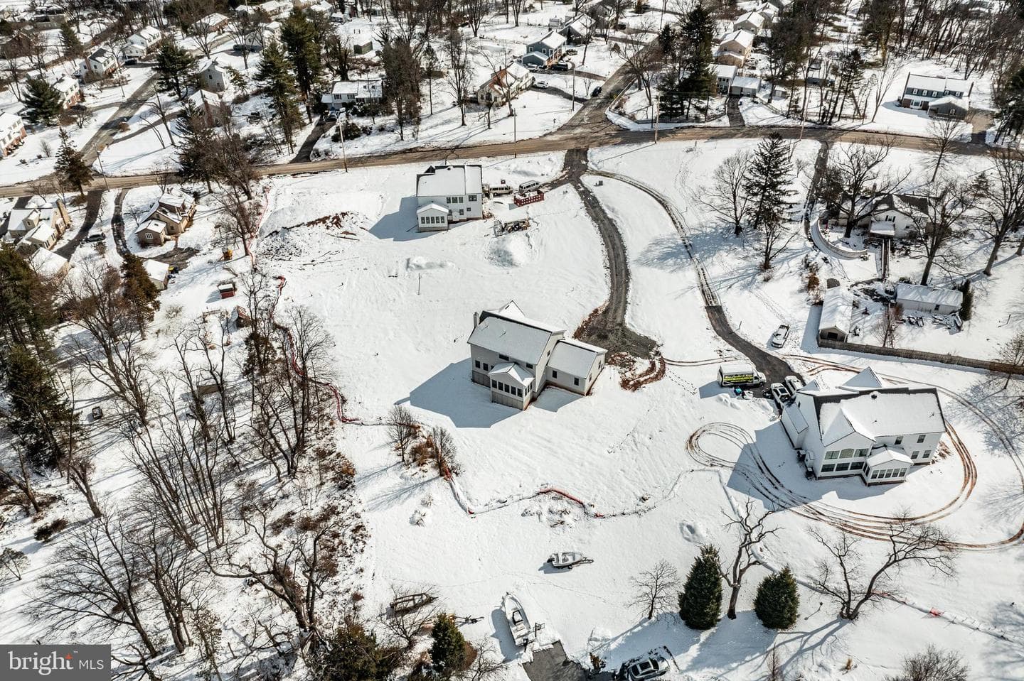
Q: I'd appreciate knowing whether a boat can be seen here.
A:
Yes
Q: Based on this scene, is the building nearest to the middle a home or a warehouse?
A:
home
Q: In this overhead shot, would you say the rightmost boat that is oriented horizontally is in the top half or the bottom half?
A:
bottom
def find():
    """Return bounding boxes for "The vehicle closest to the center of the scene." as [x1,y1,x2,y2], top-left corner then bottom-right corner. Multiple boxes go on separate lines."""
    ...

[500,217,530,234]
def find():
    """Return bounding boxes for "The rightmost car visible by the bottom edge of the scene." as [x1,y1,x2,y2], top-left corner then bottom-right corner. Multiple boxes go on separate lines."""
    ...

[623,650,674,681]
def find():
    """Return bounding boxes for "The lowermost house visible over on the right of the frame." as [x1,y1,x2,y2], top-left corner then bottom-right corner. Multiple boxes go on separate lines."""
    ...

[775,364,951,490]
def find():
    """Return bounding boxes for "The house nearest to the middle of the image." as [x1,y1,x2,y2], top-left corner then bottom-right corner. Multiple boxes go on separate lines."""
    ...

[467,299,618,410]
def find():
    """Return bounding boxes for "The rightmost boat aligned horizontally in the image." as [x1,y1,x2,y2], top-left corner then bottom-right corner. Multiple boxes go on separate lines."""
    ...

[542,547,594,569]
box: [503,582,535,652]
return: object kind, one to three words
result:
boat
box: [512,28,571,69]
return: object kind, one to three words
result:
house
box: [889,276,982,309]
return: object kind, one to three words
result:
shed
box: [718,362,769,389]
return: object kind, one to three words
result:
truck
